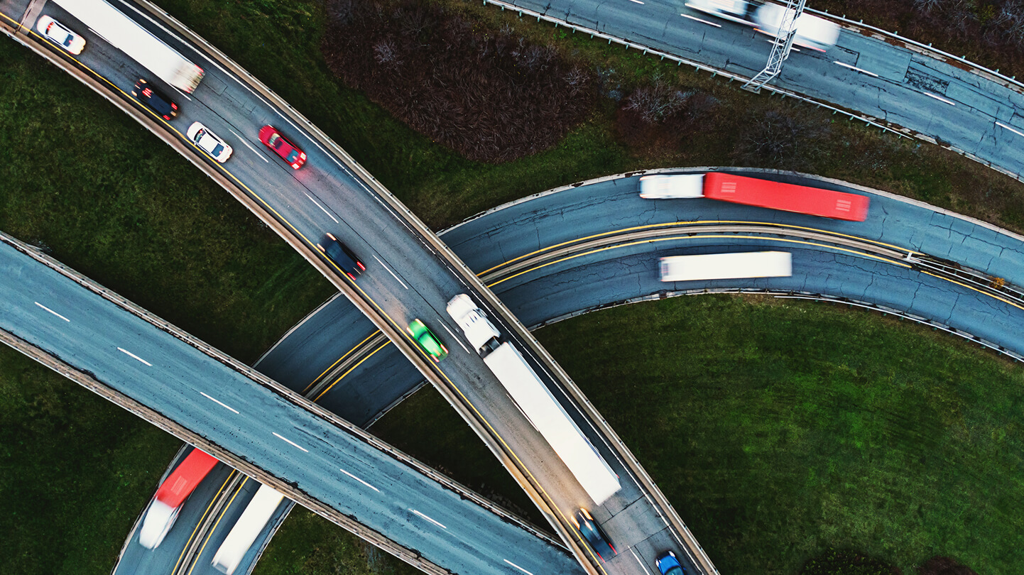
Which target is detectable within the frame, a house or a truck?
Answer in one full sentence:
The one in the frame is a truck.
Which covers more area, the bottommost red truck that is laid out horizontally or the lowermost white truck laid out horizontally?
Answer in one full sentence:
Compared with the lowermost white truck laid out horizontally, the bottommost red truck that is laid out horizontally is the larger one.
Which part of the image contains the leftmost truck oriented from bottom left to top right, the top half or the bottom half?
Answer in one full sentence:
You can find the leftmost truck oriented from bottom left to top right in the bottom half.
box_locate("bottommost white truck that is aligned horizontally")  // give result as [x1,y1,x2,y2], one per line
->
[661,250,787,281]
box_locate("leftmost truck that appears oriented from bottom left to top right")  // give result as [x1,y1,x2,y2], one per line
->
[137,448,218,551]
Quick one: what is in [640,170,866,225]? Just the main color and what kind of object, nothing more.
red truck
